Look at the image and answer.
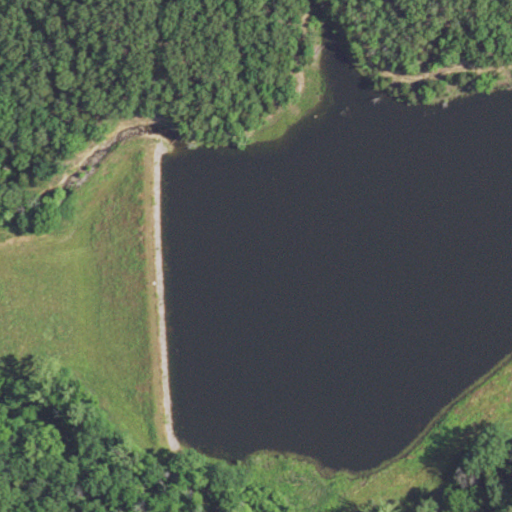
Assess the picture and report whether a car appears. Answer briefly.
No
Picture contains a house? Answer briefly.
No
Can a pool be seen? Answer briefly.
No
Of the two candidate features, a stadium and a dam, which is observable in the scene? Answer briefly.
dam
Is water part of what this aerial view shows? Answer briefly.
Yes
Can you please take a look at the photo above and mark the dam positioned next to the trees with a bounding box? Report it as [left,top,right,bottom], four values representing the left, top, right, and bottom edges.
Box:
[94,136,181,454]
